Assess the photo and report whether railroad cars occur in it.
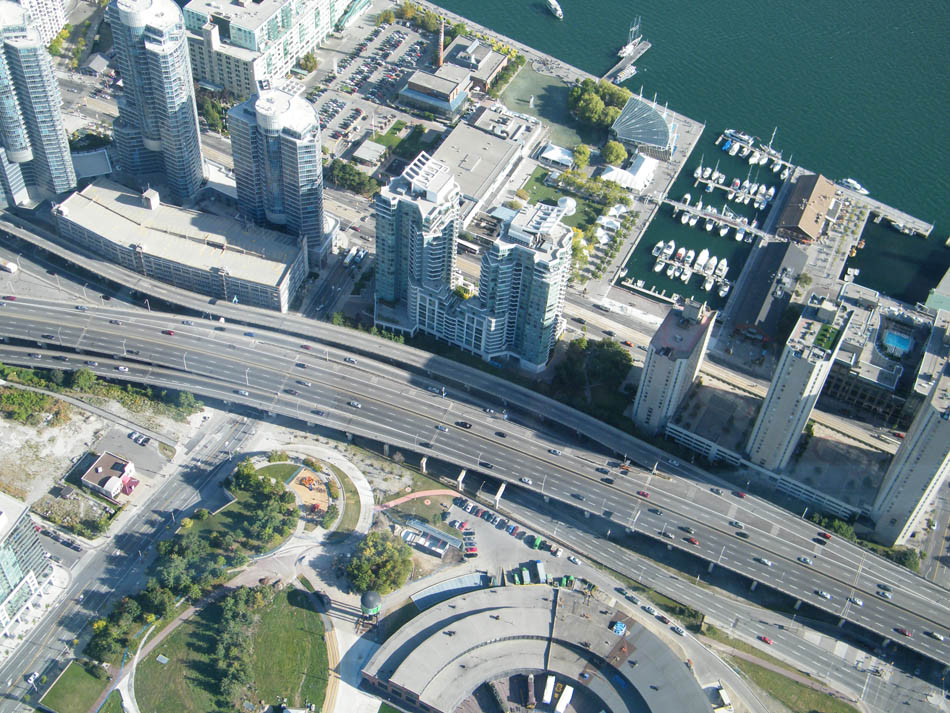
Yes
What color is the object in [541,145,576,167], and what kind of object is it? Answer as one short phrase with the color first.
white tent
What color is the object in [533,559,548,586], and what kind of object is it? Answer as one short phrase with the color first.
white vehicle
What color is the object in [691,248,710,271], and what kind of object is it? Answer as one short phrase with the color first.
white boat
